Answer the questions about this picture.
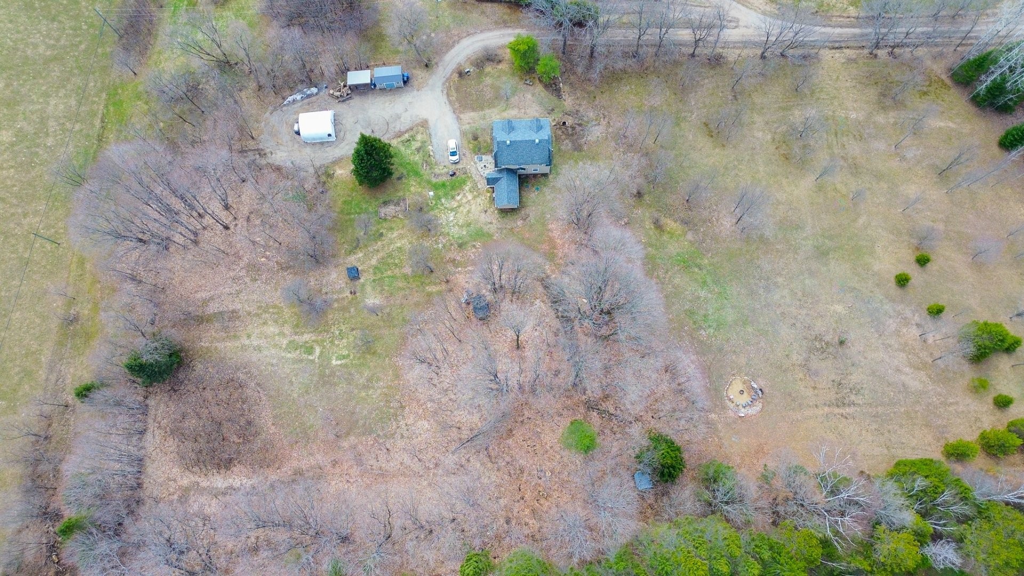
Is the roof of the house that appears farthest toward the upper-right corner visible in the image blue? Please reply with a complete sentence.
Yes, the roof of the house that appears farthest toward the upper-right corner appears blue.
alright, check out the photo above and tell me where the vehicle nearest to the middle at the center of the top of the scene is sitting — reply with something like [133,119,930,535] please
[448,139,460,164]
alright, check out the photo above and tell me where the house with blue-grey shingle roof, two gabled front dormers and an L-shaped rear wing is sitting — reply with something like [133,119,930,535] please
[486,117,553,212]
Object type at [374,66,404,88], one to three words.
shed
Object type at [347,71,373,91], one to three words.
shed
